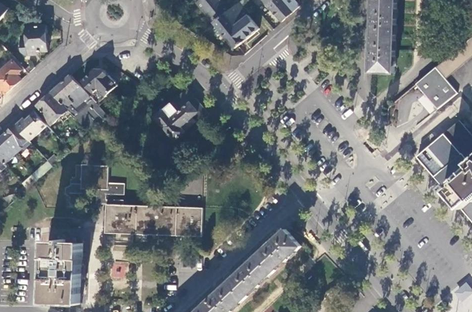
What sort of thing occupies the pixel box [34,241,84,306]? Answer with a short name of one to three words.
building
